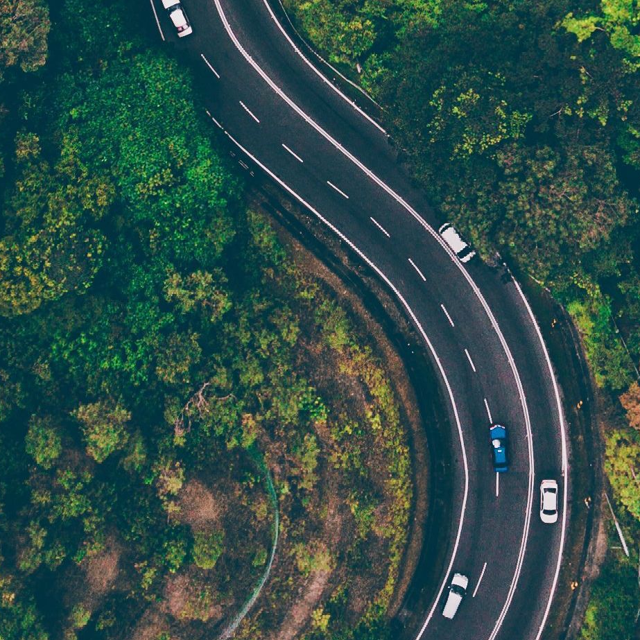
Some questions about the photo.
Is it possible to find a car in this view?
Yes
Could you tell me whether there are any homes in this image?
No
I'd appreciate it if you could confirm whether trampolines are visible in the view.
No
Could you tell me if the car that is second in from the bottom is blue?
No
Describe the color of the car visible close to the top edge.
white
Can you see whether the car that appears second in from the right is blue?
Yes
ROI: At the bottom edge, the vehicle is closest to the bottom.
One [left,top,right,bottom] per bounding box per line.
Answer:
[441,575,468,621]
